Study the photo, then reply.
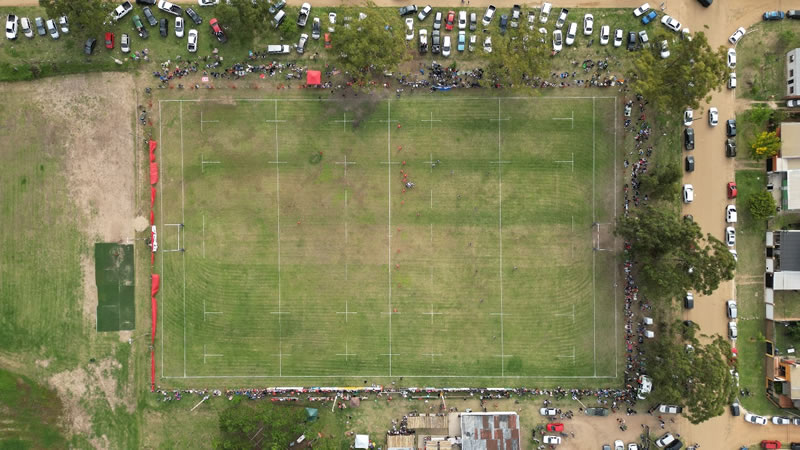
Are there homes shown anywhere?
Yes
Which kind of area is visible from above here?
sports ground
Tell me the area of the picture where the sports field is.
center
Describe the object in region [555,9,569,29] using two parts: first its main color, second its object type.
white vehicle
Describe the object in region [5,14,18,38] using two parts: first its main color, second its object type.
white vehicle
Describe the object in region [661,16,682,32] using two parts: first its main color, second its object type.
white car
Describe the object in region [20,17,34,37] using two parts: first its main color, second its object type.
white car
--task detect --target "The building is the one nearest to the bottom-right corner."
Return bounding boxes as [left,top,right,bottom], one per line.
[766,362,800,412]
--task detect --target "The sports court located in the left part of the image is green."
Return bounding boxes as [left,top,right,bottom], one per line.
[95,243,134,331]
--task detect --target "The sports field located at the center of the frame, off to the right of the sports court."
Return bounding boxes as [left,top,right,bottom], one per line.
[157,95,621,382]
